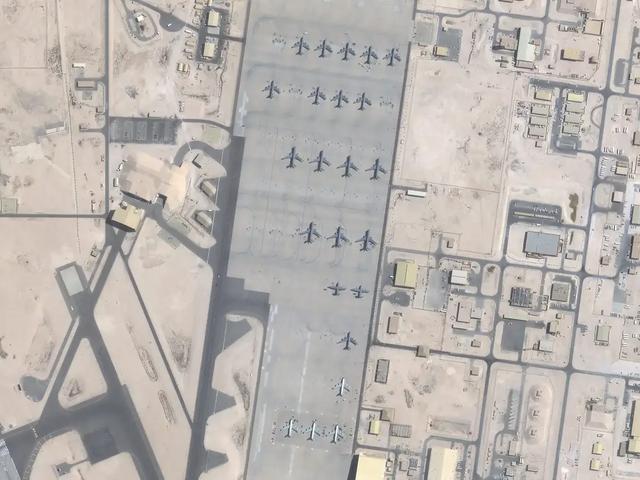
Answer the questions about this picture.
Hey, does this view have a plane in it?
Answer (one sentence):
Yes, there is a plane in the image.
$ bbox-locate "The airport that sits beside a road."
[0,0,417,480]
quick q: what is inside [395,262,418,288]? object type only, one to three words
hangar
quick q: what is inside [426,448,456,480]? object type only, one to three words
hangar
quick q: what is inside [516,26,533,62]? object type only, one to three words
building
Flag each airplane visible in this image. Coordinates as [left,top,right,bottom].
[382,48,401,66]
[360,46,378,64]
[328,282,346,296]
[281,419,299,438]
[308,86,325,104]
[337,156,358,177]
[356,230,376,251]
[353,92,371,111]
[309,151,330,172]
[365,158,386,180]
[282,147,302,168]
[331,89,348,108]
[303,422,321,441]
[326,425,344,443]
[328,227,348,248]
[338,332,356,350]
[262,81,279,99]
[300,222,321,243]
[314,39,332,57]
[332,378,349,396]
[291,36,309,55]
[351,285,369,298]
[338,42,355,60]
